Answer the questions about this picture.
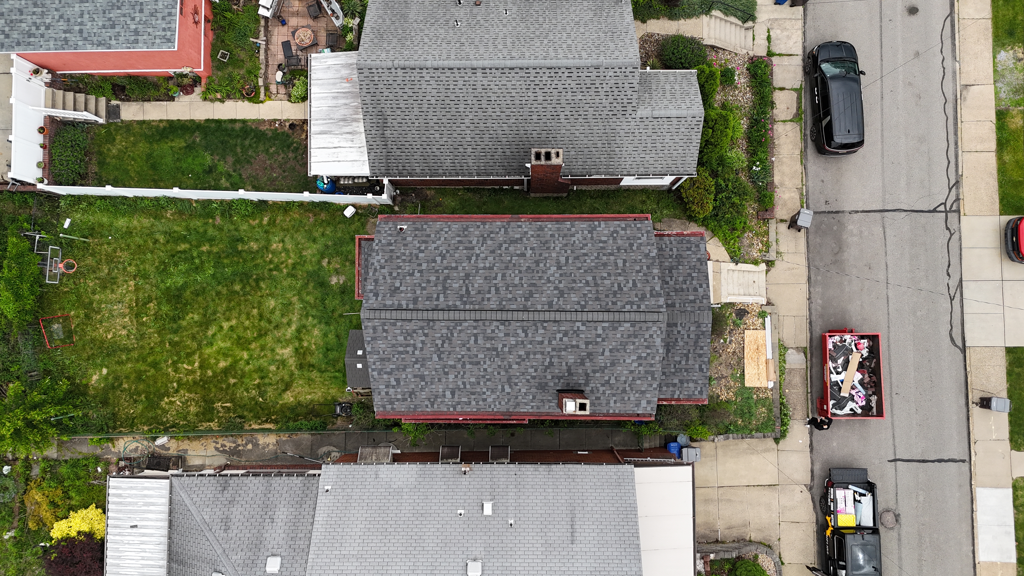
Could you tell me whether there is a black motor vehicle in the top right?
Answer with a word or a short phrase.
Yes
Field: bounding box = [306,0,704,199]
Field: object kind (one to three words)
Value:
house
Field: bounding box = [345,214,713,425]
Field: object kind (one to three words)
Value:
house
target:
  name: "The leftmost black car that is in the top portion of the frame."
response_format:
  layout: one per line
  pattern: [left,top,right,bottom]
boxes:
[806,41,867,157]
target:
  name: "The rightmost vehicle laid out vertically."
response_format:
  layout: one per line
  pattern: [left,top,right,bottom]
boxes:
[1003,217,1024,263]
